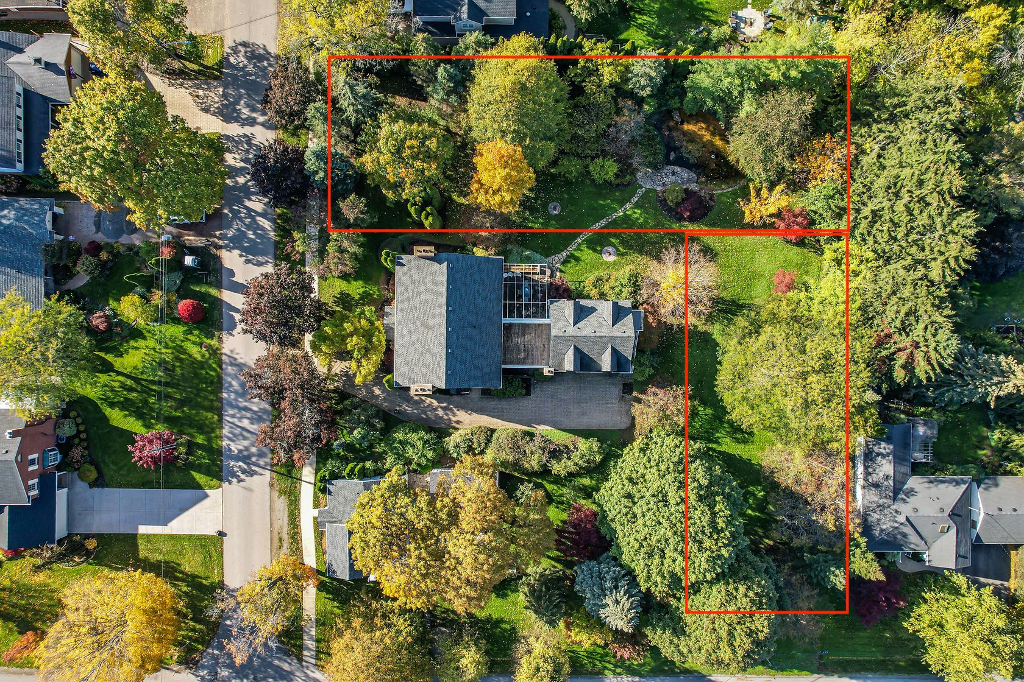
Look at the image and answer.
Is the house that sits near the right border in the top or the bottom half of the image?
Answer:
bottom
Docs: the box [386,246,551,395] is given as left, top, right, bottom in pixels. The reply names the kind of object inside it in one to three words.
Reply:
house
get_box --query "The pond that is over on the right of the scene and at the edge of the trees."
[644,104,745,183]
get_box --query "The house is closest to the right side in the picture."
[855,423,1024,573]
